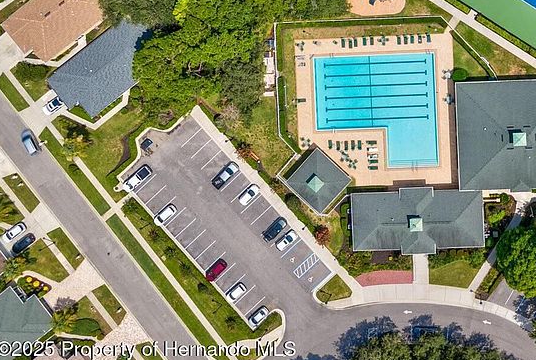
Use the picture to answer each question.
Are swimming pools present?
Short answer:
Yes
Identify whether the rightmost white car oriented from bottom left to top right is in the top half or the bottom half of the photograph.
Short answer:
bottom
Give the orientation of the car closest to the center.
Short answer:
diagonally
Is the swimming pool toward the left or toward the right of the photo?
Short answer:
right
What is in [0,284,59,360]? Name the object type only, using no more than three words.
house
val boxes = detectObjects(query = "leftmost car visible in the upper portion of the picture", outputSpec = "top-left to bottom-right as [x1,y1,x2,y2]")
[21,129,42,156]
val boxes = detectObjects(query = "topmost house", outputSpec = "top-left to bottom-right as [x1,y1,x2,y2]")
[3,0,117,64]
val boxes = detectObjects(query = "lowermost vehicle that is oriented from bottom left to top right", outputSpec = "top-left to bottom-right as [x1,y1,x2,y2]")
[248,306,270,327]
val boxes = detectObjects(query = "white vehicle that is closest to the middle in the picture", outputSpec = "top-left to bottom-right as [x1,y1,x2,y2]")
[238,184,261,205]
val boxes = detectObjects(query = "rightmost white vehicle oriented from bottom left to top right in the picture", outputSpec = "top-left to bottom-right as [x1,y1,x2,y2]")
[275,229,299,251]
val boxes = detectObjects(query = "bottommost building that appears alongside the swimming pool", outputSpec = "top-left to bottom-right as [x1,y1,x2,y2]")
[350,187,485,255]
